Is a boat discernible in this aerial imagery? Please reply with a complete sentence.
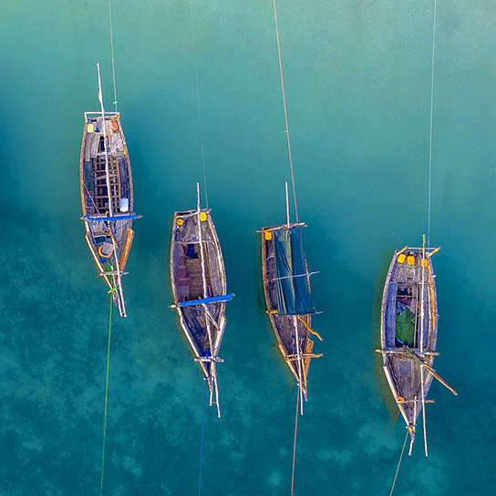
Yes, this view includes a boat.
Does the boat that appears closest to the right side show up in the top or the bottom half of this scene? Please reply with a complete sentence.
Seen from above, the boat that appears closest to the right side lies in the bottom half of the view.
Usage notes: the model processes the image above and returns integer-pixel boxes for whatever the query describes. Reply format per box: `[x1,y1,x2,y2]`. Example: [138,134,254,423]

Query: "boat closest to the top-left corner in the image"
[79,63,142,316]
